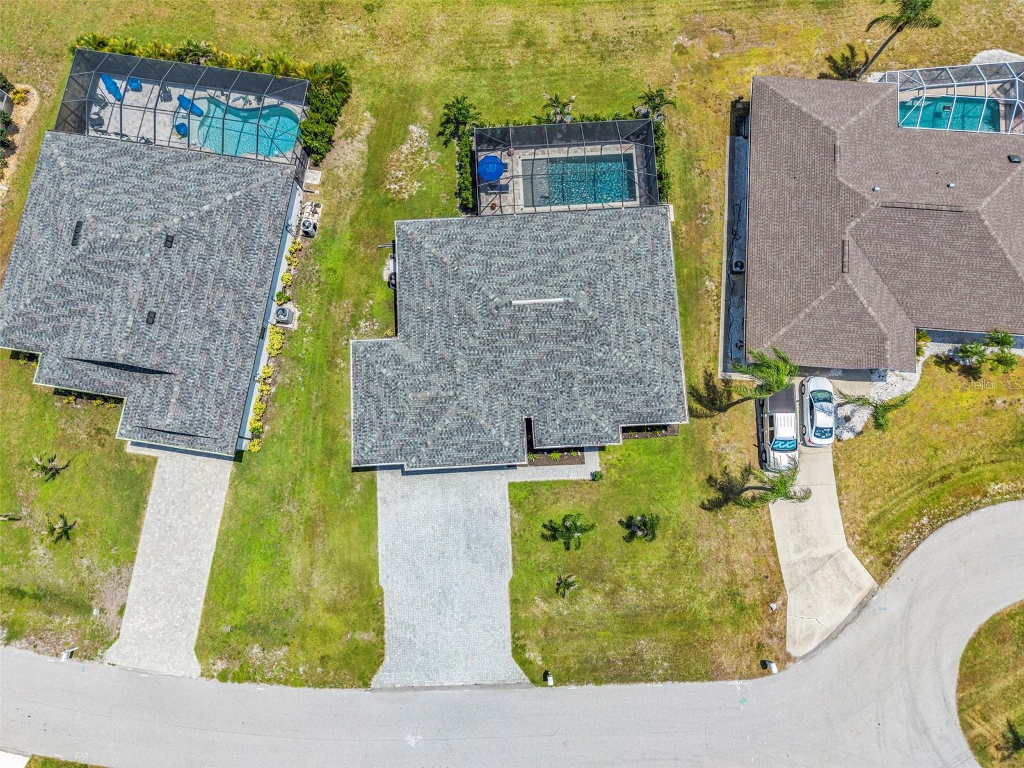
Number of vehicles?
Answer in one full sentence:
The count of vehicles comes to 2.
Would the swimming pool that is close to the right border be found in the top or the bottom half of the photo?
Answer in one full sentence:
It is in the top half that the swimming pool that is close to the right border appears.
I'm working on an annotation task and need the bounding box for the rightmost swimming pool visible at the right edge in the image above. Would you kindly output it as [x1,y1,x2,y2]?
[899,93,1003,133]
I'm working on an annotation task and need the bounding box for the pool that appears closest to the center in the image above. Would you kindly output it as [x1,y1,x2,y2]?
[517,148,642,211]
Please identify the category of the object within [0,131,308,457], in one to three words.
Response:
house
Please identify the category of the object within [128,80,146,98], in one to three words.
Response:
umbrella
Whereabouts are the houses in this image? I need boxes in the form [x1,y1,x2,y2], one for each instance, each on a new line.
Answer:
[0,131,308,457]
[741,75,1024,375]
[349,204,693,472]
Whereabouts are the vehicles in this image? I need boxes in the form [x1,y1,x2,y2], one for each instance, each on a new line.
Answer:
[799,378,835,451]
[758,381,800,475]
